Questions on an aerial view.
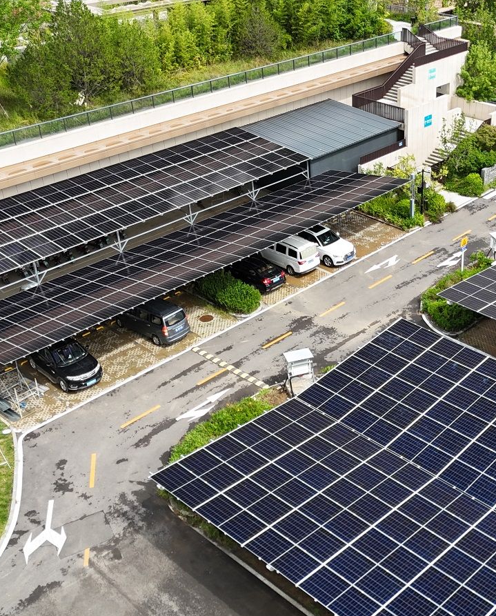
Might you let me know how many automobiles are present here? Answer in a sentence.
The photo contains 5 automobiles.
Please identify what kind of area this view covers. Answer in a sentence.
The area seen from above is a solar farm.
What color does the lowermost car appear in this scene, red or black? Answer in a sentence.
From above, the lowermost car appears black.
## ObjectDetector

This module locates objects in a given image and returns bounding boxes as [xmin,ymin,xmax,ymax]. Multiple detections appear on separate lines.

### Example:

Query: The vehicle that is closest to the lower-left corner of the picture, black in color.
[26,335,106,391]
